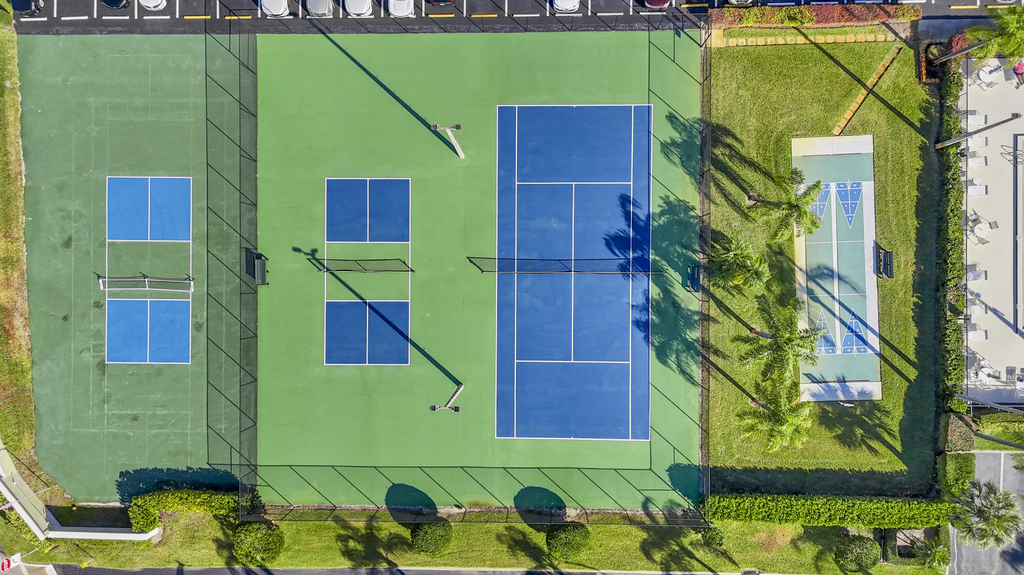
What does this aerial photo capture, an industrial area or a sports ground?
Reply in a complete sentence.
It's a sports ground.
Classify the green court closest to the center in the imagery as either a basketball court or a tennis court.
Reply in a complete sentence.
I'd say the green court closest to the center is a tennis court.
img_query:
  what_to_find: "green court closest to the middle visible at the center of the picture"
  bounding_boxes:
[257,29,701,509]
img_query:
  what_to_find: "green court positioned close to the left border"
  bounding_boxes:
[19,34,257,503]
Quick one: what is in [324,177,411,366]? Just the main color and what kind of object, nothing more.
blue sports court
